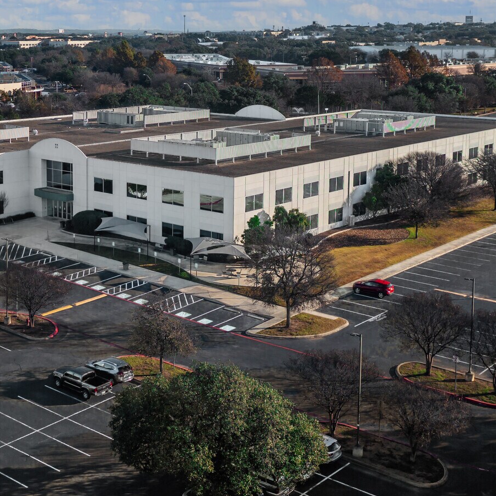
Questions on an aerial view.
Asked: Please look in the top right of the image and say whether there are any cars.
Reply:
No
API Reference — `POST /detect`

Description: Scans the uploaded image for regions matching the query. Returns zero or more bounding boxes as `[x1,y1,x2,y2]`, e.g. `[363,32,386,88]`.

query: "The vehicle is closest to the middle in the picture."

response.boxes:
[352,277,398,298]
